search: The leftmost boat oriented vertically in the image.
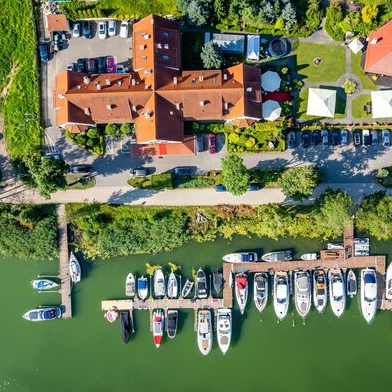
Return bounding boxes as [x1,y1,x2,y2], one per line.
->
[66,252,83,285]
